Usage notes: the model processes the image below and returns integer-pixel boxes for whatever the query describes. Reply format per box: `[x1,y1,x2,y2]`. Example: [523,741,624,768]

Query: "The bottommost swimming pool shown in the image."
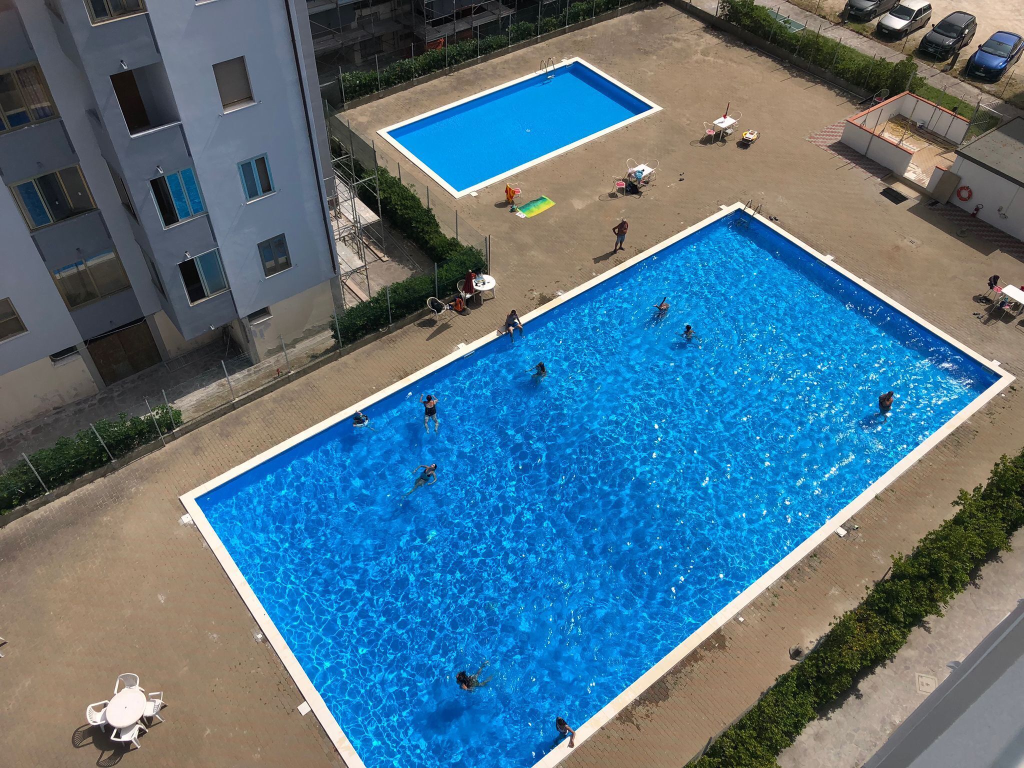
[178,202,1015,768]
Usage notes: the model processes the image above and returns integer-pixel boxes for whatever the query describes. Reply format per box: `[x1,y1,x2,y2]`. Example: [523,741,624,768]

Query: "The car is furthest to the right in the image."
[969,32,1024,83]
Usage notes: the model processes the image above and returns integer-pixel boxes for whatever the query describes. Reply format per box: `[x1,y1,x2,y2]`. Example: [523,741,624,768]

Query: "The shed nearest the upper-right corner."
[943,109,1024,242]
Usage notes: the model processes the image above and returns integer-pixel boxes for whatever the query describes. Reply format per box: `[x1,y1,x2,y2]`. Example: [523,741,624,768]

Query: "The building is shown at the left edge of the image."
[0,0,341,435]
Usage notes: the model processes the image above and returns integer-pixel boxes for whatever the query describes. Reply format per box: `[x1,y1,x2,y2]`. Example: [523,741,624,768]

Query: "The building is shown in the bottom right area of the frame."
[862,580,1024,768]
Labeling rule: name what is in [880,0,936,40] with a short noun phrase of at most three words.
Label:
car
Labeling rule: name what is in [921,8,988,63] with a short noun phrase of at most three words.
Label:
car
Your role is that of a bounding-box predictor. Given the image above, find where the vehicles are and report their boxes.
[921,8,988,63]
[880,0,936,40]
[969,32,1024,83]
[843,0,898,23]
